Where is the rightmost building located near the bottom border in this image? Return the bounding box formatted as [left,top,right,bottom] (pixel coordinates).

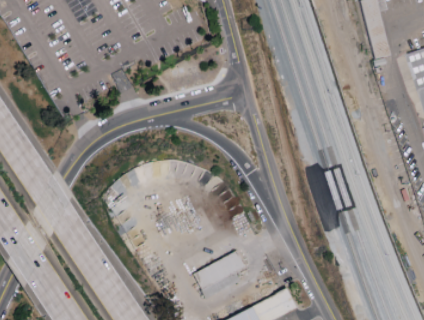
[253,288,298,320]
